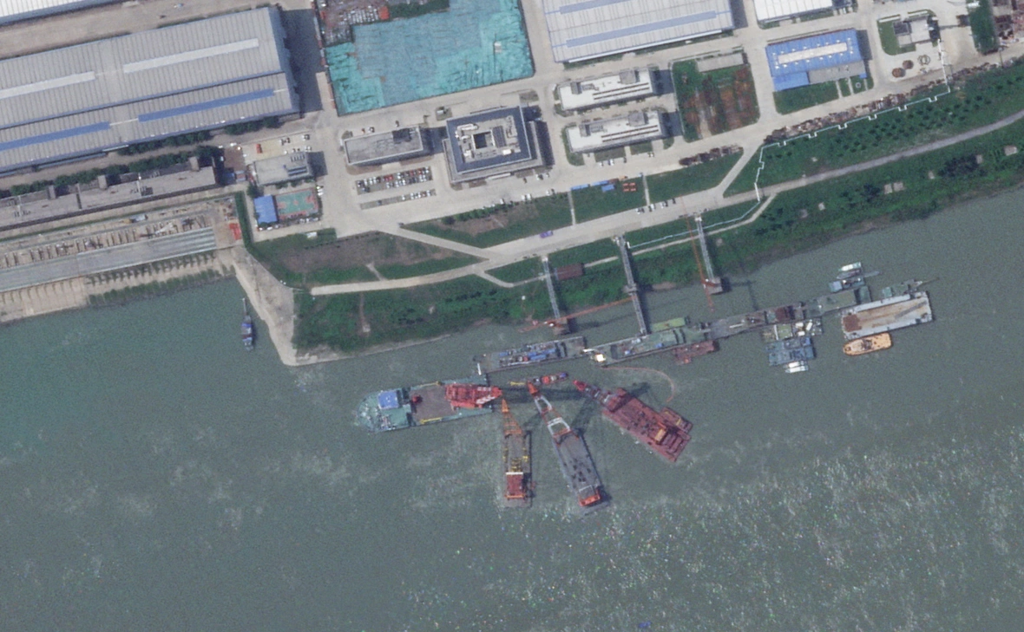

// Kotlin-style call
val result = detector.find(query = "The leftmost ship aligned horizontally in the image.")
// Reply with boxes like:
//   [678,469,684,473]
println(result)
[357,374,502,432]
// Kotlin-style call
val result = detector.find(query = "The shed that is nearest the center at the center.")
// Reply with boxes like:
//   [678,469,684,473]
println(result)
[555,263,586,280]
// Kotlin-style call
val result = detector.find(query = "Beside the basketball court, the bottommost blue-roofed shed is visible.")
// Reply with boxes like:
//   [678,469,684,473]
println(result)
[254,195,281,226]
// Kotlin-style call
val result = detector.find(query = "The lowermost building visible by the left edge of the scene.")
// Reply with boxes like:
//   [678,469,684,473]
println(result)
[0,156,224,231]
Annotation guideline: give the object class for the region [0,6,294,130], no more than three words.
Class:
warehouse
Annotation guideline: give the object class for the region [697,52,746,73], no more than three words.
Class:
shed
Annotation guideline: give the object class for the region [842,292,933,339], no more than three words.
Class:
ship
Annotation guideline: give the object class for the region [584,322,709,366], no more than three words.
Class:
pier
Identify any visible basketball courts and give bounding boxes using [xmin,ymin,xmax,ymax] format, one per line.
[277,187,318,219]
